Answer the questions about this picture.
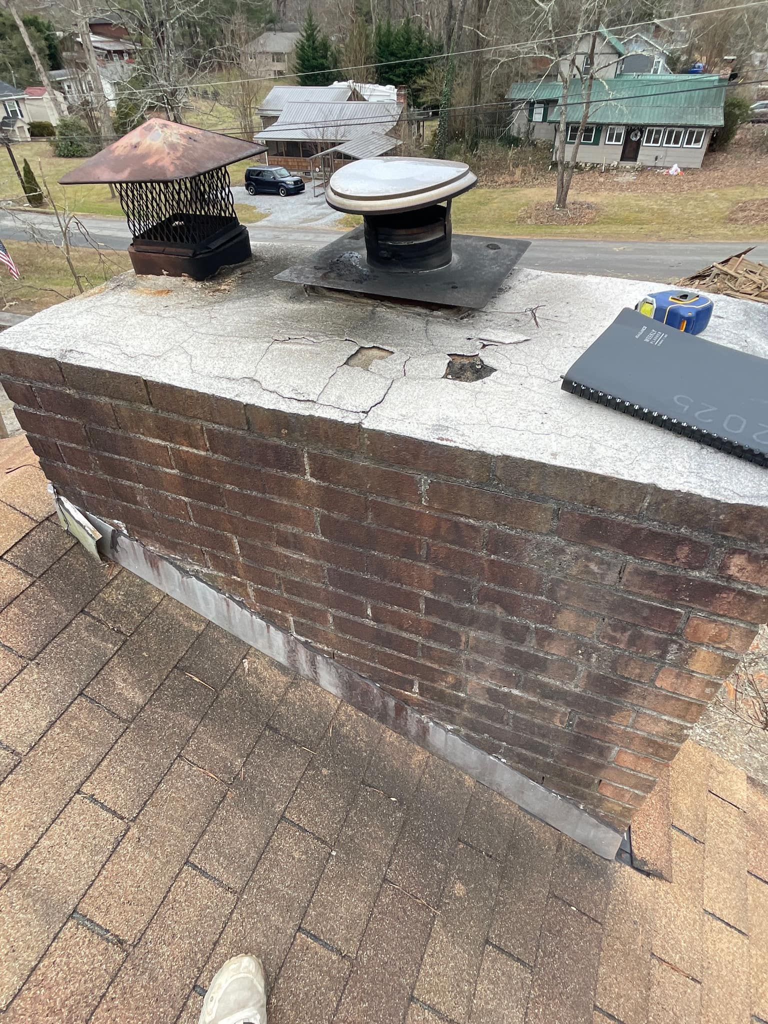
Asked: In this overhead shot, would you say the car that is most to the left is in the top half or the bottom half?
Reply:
top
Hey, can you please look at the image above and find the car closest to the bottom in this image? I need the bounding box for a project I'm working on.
[237,163,304,200]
